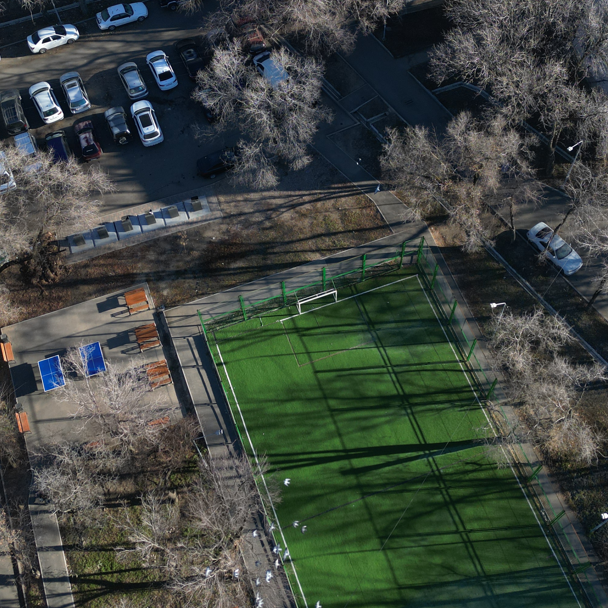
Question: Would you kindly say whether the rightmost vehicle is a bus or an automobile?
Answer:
automobile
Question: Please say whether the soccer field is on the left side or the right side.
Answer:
right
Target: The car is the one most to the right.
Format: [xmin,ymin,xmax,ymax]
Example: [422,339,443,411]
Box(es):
[529,224,579,277]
